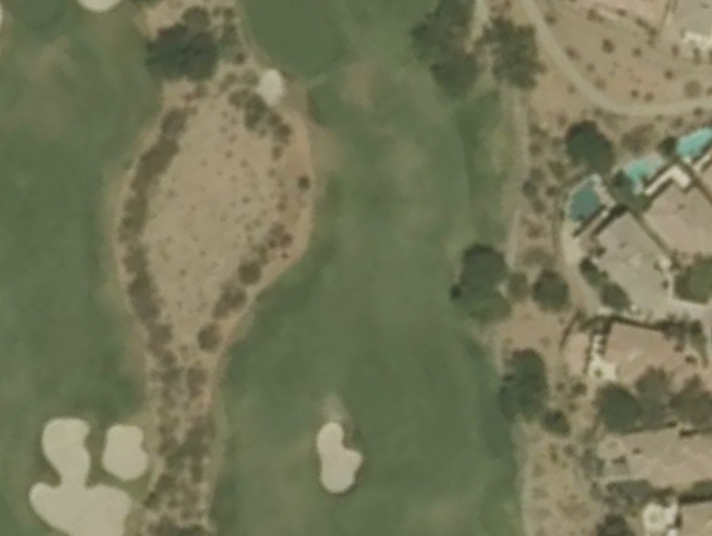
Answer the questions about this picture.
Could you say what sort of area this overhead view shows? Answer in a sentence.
The area seen from above is a golf course.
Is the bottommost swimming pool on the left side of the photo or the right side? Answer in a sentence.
The bottommost swimming pool is on the right side of the image.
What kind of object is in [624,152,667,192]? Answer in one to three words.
swimming pool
